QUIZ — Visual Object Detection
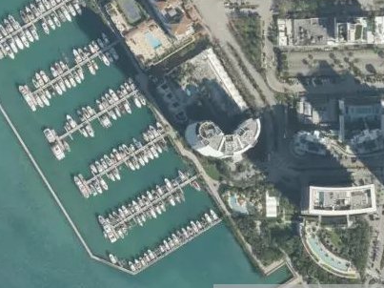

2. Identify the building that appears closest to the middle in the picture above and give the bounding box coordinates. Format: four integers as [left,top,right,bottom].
[185,121,224,154]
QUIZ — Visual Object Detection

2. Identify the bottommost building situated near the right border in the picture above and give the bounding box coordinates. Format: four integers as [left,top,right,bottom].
[303,183,377,218]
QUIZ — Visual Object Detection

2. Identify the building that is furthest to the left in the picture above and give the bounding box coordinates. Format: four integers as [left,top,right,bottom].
[107,0,144,32]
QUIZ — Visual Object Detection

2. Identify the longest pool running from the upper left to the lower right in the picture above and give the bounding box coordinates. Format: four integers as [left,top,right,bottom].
[306,232,352,273]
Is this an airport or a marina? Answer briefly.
marina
